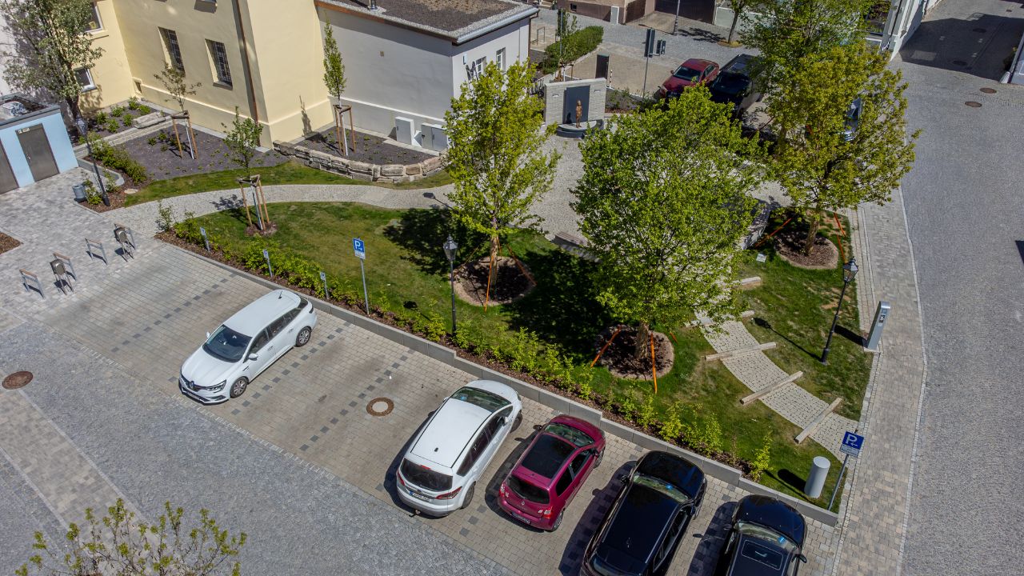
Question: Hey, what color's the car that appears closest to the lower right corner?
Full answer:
The color of the car that appears closest to the lower right corner is black.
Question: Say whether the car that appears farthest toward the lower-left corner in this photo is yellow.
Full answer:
No, the car that appears farthest toward the lower-left corner is white.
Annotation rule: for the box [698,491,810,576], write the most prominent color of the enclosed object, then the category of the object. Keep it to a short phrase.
black car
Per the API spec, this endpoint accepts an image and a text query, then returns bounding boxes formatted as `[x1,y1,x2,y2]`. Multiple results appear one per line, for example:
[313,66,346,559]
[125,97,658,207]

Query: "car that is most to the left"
[177,293,317,404]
